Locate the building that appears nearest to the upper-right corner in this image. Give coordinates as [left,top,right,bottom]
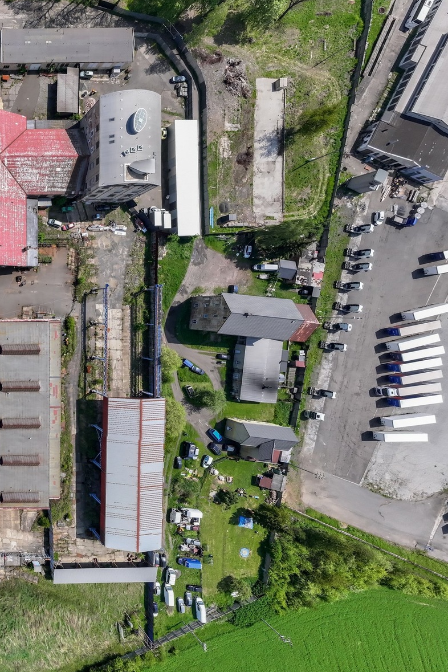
[377,0,448,134]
